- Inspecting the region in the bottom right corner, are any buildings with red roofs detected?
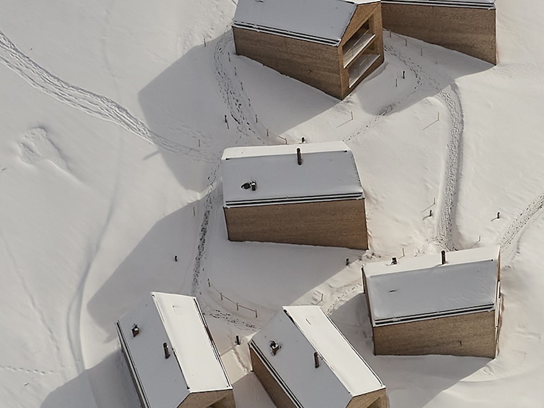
No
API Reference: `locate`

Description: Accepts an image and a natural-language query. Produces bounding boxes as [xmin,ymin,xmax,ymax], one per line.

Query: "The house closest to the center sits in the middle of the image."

[221,140,368,248]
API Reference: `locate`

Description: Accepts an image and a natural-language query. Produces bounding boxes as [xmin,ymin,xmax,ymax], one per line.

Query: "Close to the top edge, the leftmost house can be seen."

[233,0,382,98]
